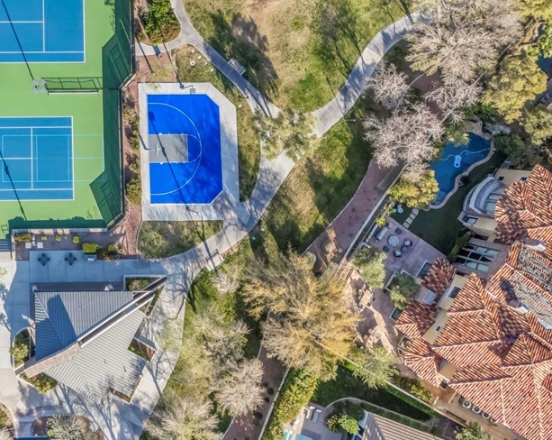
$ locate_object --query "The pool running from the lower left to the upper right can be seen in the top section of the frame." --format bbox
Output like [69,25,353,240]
[424,129,496,210]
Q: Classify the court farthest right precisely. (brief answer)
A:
basketball court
